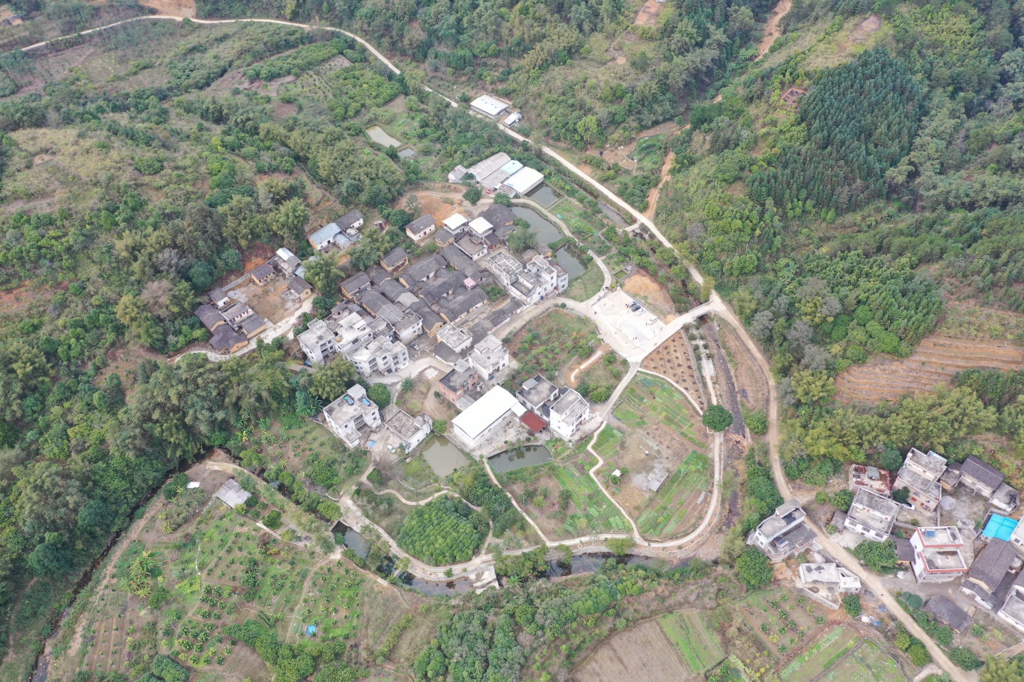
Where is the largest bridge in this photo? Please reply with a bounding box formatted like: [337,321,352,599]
[665,296,725,325]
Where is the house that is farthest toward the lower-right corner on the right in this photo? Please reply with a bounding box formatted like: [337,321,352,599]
[991,594,1024,646]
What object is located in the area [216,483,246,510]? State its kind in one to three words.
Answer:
shed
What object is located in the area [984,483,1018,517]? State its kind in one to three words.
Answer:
house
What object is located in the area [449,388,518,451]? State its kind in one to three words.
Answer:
building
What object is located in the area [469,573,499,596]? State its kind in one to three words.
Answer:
dam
